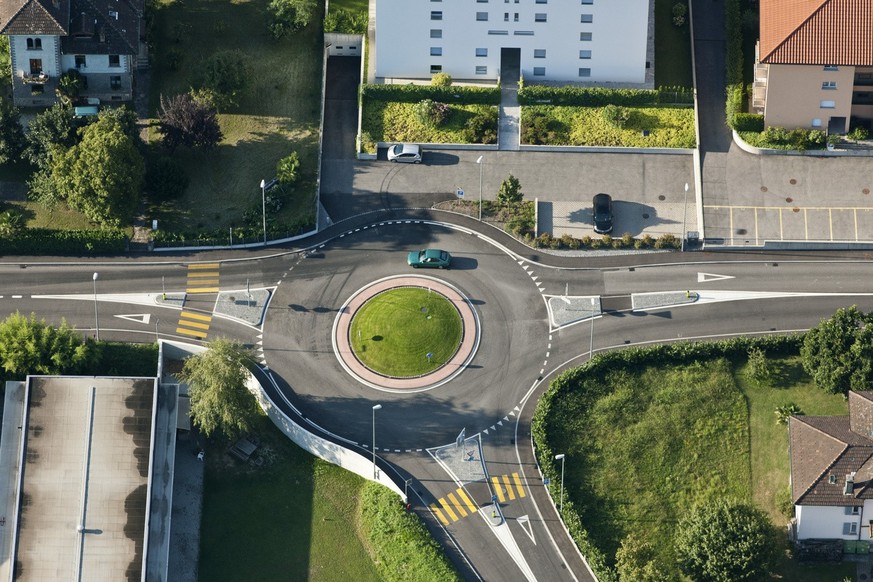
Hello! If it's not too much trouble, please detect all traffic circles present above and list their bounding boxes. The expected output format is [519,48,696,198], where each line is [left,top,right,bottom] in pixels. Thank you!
[256,221,552,452]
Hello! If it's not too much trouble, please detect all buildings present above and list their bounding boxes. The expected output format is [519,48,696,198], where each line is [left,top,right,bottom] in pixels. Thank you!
[376,0,650,84]
[0,374,179,582]
[326,32,361,55]
[750,0,873,130]
[789,395,873,546]
[0,0,148,106]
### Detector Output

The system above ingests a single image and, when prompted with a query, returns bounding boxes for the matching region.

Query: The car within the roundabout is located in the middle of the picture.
[408,248,451,268]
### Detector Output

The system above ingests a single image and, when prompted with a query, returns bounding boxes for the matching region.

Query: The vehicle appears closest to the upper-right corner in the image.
[593,193,614,233]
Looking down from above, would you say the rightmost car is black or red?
black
